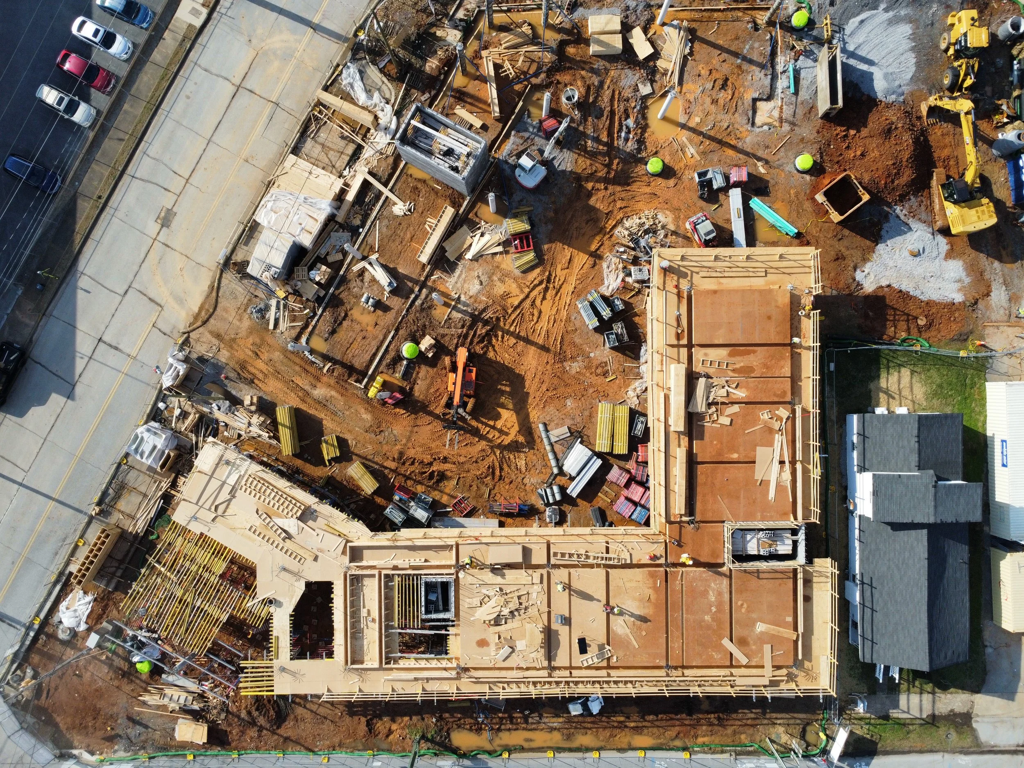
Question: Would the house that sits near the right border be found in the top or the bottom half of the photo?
bottom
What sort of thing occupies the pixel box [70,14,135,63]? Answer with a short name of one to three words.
car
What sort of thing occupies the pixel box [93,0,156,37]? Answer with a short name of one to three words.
car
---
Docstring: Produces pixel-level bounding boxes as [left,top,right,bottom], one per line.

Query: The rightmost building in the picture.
[839,402,982,672]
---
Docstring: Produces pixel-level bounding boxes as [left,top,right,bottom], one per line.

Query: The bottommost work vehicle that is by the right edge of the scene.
[918,96,996,238]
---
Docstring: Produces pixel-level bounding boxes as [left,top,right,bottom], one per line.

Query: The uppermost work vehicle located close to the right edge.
[934,10,994,105]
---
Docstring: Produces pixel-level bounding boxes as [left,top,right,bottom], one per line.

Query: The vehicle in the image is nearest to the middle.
[441,348,486,450]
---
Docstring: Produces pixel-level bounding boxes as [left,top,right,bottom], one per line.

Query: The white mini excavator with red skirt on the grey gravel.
[515,114,572,191]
